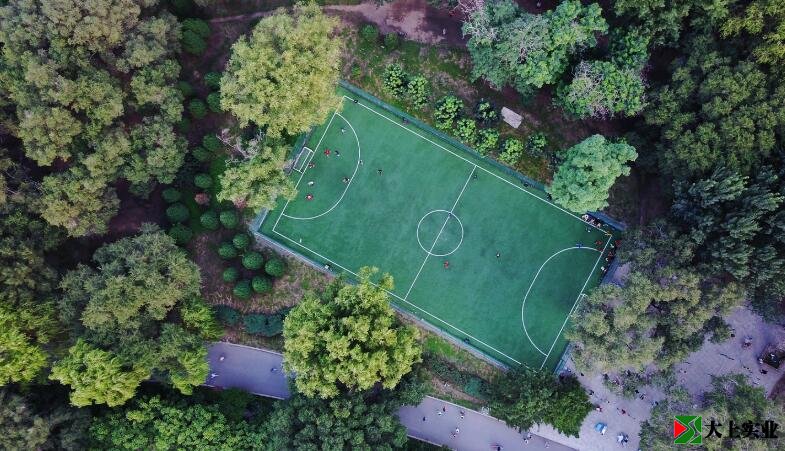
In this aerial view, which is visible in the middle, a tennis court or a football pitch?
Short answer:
football pitch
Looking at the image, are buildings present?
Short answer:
No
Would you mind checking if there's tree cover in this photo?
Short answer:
Yes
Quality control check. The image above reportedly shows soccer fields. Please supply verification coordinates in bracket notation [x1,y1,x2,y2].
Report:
[261,87,621,380]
